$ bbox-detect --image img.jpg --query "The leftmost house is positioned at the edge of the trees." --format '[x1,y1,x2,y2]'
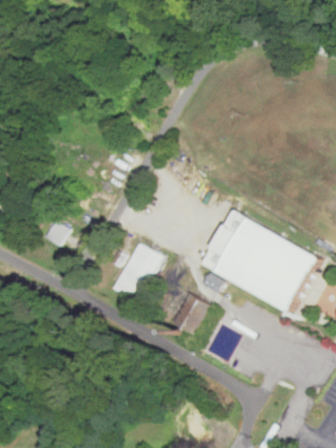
[46,220,74,248]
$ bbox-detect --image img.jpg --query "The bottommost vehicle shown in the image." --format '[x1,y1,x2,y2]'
[261,424,279,448]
